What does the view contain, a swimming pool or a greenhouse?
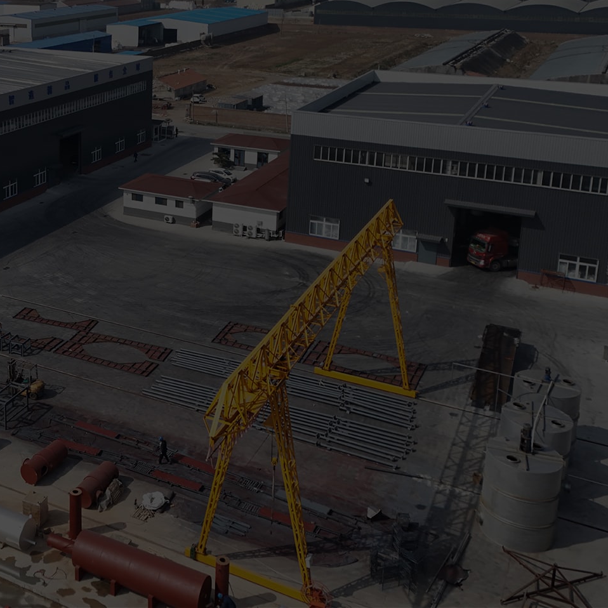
greenhouse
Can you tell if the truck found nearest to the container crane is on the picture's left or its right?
right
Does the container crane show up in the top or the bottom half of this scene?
bottom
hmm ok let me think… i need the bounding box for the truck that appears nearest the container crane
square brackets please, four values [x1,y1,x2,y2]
[462,231,519,277]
